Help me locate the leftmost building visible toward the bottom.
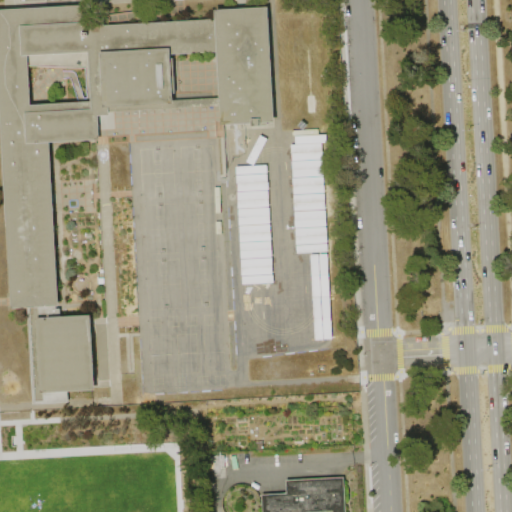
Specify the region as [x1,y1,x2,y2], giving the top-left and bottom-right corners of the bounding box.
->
[34,314,94,392]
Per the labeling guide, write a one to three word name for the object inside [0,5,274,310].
building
